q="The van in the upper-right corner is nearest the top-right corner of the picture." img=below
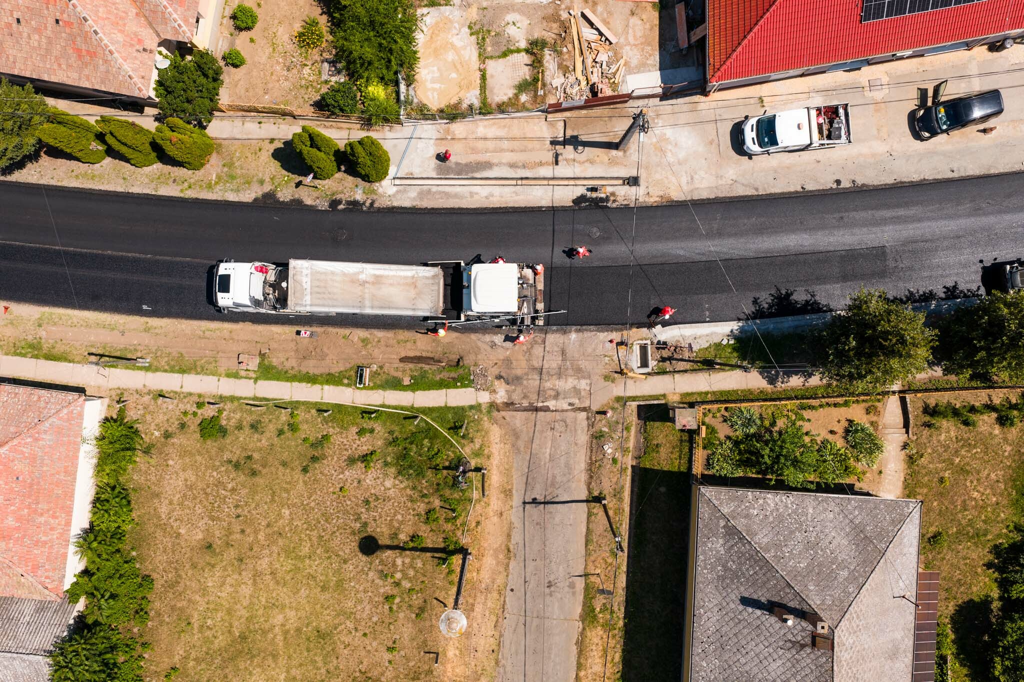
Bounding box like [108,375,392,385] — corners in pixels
[904,81,1007,146]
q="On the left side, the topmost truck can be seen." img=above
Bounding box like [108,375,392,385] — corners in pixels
[214,255,448,317]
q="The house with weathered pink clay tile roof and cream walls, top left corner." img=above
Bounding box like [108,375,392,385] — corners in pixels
[0,0,216,99]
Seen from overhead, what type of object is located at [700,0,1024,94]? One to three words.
house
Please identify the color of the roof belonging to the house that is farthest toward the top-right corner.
red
